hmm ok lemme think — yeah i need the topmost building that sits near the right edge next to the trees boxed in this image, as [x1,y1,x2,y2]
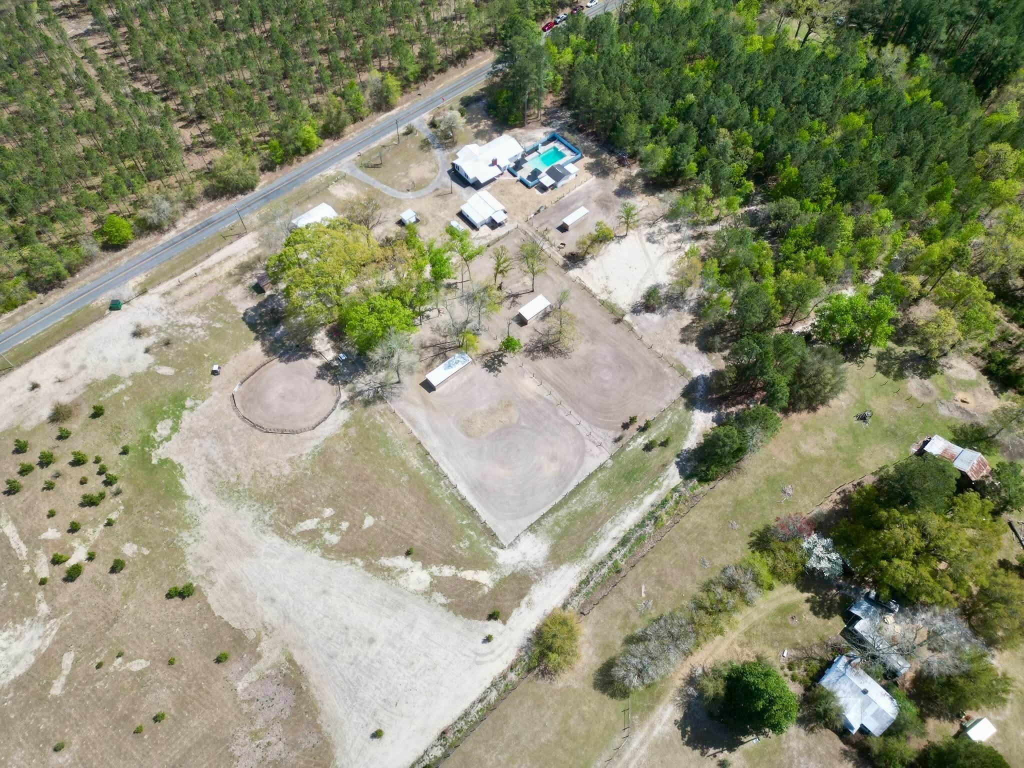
[921,434,990,484]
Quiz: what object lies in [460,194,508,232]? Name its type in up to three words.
house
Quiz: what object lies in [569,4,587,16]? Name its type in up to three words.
vehicle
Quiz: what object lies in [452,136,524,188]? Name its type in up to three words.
house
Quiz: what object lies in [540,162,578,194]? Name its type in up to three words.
shed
